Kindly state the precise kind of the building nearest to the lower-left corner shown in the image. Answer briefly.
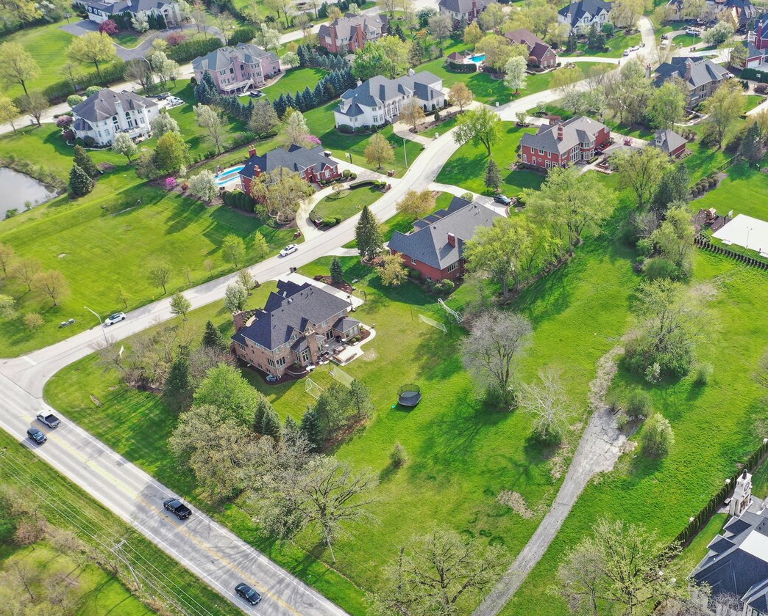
residential house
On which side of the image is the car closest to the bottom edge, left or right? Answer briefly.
left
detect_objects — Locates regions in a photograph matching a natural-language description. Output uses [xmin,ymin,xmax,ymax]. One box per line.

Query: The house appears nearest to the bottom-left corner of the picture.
[230,278,361,378]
